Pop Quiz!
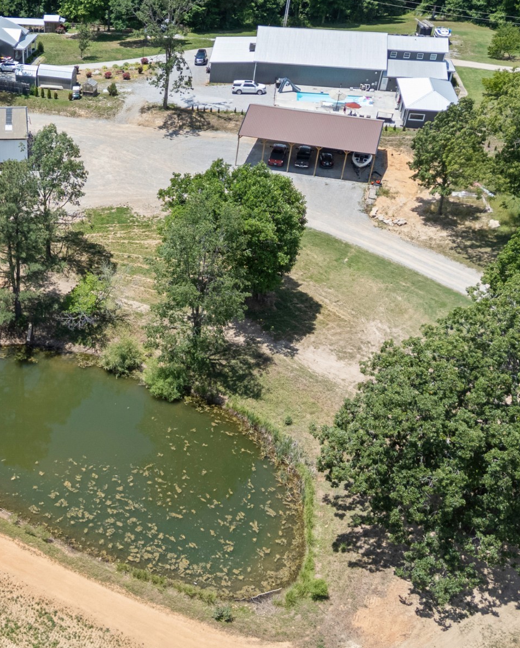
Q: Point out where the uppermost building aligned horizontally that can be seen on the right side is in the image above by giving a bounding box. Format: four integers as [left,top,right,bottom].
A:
[210,27,464,93]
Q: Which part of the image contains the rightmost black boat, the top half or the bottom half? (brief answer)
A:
top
